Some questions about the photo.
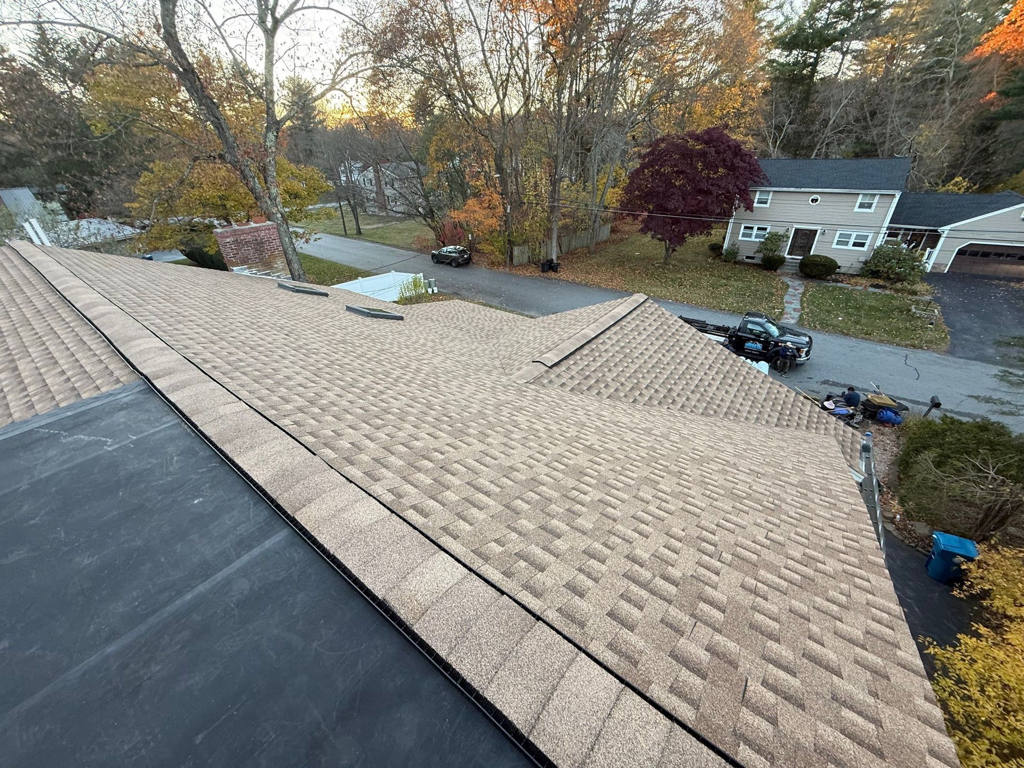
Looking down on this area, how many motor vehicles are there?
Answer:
two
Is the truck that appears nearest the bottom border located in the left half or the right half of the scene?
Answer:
right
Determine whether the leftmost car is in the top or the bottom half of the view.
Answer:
top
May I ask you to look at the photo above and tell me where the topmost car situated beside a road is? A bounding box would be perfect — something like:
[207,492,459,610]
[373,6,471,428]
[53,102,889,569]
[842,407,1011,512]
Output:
[430,243,474,267]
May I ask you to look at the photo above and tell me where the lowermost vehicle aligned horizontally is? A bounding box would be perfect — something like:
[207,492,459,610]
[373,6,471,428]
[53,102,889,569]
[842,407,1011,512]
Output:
[677,309,813,367]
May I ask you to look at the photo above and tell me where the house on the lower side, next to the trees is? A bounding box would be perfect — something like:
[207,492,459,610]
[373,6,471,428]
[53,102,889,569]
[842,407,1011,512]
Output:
[0,210,960,768]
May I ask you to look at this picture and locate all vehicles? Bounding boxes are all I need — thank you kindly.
[430,243,474,267]
[677,309,813,367]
